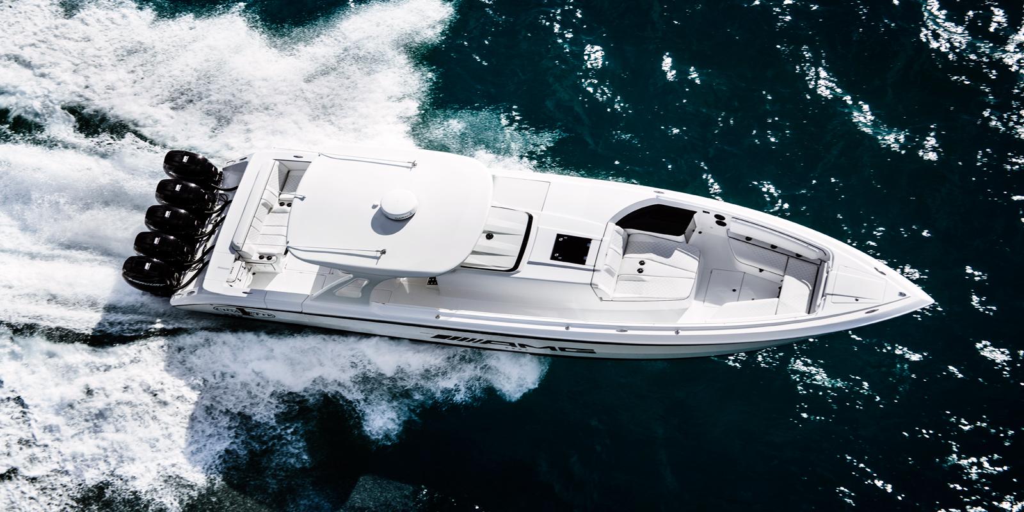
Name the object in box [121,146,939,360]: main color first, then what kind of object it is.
white boat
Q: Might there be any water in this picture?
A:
Yes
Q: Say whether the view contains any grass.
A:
No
